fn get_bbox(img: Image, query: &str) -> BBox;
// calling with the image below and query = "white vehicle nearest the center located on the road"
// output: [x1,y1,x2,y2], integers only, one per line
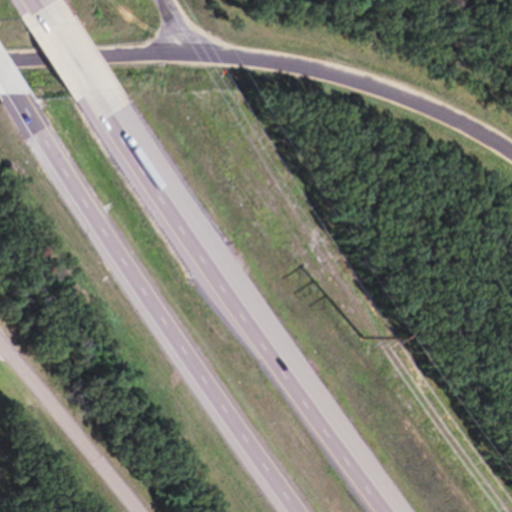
[120,133,168,192]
